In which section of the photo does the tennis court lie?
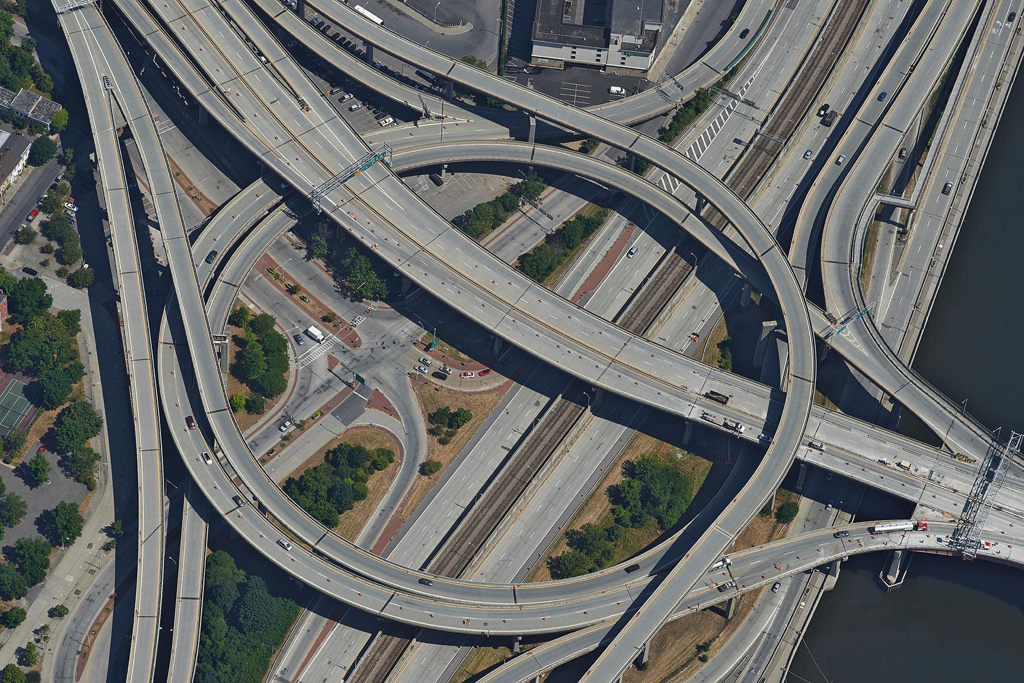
left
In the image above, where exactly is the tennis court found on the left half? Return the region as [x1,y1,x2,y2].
[0,349,46,457]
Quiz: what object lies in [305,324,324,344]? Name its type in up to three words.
vehicle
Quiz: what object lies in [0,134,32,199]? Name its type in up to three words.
house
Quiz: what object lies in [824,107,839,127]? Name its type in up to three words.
vehicle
